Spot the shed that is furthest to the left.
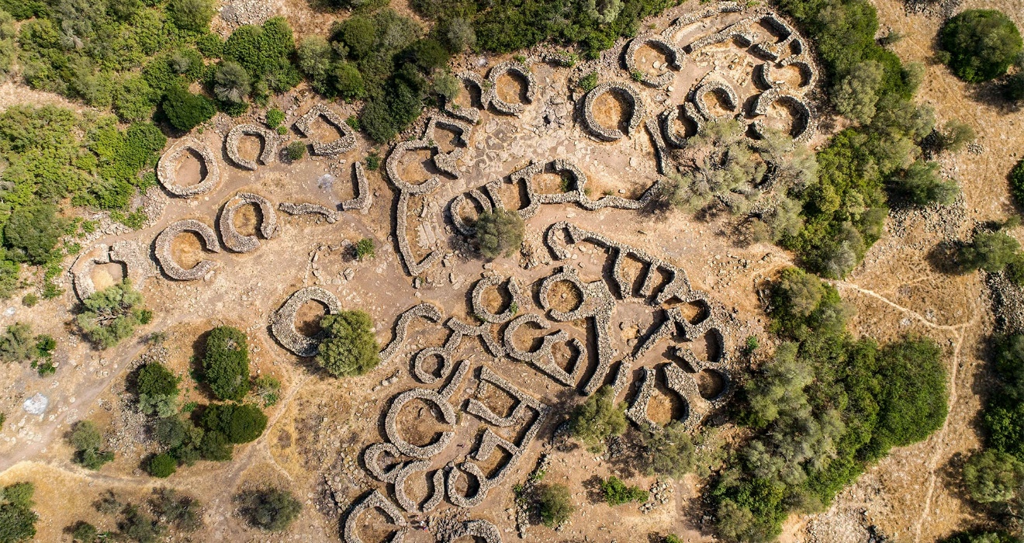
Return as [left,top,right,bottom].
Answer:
[72,245,147,299]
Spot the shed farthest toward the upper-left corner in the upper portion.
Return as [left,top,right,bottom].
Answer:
[159,138,222,197]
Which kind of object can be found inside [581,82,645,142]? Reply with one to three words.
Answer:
shed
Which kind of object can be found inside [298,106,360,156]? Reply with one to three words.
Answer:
house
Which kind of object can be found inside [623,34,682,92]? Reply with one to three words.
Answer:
shed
